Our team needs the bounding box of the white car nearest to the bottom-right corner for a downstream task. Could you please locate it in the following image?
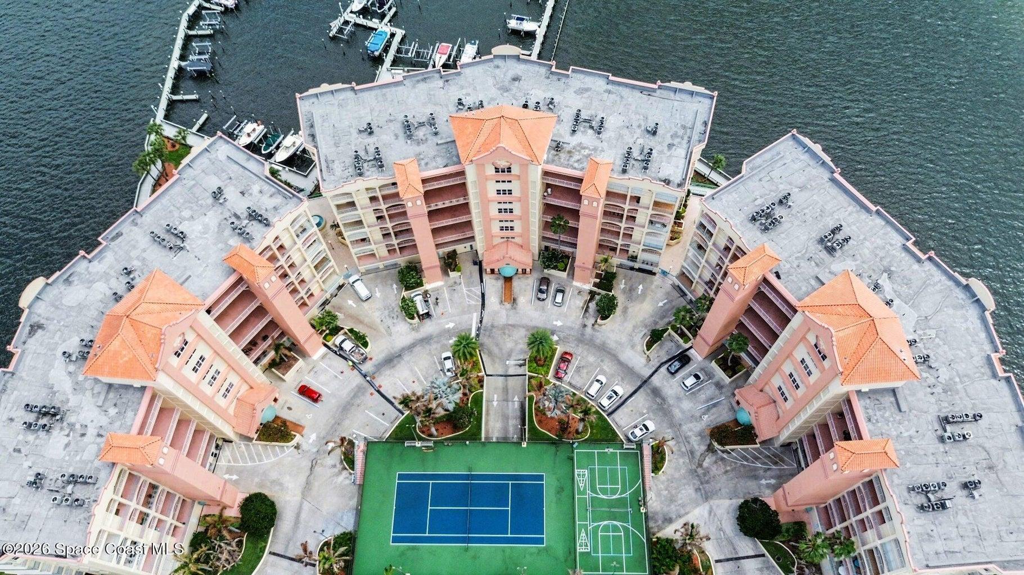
[678,371,706,392]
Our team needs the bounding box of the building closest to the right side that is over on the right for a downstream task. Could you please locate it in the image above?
[670,128,1024,575]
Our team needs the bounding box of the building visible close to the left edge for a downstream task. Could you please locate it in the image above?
[0,130,345,575]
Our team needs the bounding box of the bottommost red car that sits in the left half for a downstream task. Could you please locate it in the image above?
[297,385,324,404]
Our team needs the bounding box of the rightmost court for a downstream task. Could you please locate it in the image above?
[575,446,651,575]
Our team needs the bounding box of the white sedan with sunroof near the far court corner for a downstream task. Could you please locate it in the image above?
[629,418,655,444]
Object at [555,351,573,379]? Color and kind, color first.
red car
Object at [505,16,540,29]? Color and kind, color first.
white boat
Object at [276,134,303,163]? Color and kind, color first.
white boat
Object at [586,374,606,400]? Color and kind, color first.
white car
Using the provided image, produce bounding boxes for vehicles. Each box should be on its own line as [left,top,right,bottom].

[348,275,372,301]
[629,418,655,444]
[555,351,573,379]
[337,335,366,362]
[536,277,550,301]
[442,352,456,378]
[599,385,623,412]
[586,374,606,400]
[297,385,324,404]
[678,371,706,392]
[666,353,693,376]
[411,292,430,317]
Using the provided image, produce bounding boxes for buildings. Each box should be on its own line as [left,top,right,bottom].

[0,130,345,575]
[296,45,718,305]
[670,128,1024,575]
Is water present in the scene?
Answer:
Yes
